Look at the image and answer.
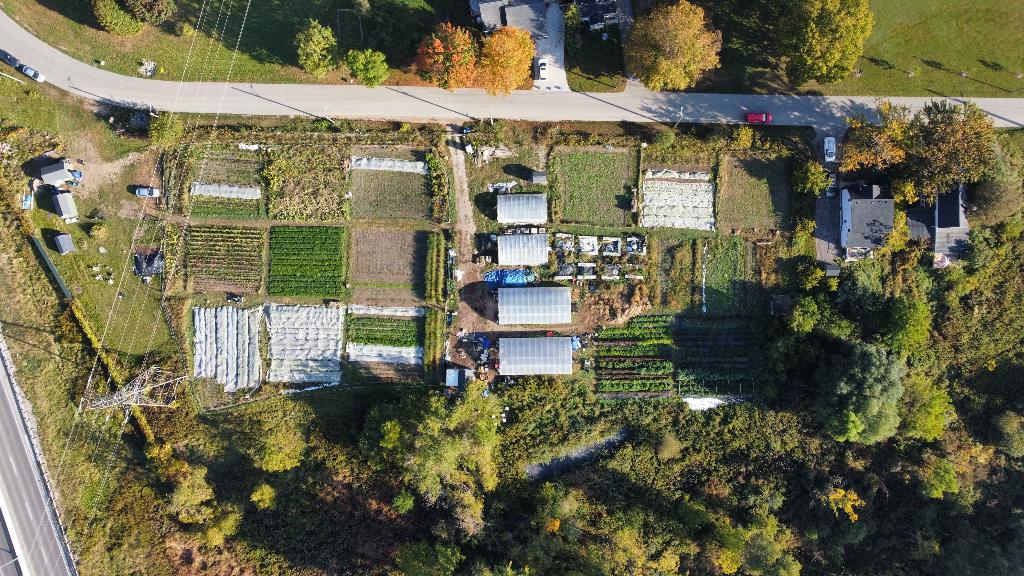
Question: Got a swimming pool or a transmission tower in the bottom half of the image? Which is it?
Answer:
transmission tower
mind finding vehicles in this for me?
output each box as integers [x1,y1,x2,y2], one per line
[21,65,46,83]
[823,136,836,162]
[538,59,548,83]
[824,171,838,199]
[136,188,161,199]
[743,112,771,124]
[0,49,21,67]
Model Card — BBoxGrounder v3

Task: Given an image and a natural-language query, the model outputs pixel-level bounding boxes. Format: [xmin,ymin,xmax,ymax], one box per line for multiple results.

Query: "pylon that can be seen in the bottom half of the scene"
[76,363,190,426]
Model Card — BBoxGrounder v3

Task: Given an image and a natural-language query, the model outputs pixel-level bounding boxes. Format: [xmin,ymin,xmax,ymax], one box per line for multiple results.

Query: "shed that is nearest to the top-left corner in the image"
[36,159,73,185]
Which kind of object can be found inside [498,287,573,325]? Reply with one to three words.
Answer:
greenhouse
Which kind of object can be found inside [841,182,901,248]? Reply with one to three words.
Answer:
house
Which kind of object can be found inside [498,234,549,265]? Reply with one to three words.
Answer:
greenhouse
